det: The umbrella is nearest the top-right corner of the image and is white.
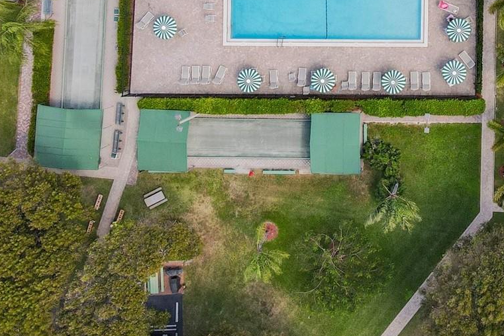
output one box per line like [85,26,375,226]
[446,18,471,41]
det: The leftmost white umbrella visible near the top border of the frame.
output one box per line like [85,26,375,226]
[155,16,180,40]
